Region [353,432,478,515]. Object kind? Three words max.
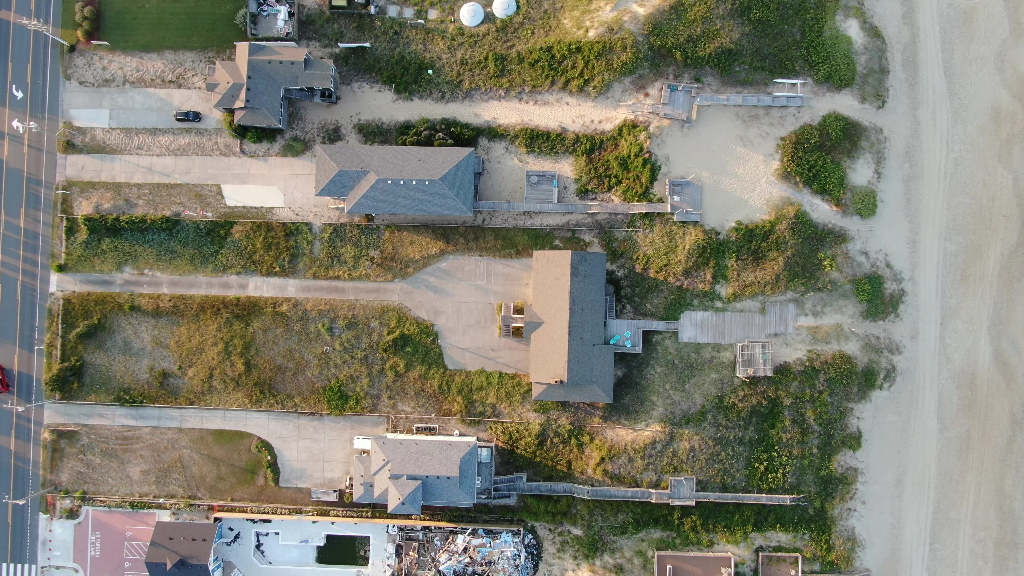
house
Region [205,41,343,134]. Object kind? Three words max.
house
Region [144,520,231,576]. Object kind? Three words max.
building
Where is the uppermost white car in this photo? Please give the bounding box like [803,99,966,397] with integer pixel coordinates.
[347,437,371,452]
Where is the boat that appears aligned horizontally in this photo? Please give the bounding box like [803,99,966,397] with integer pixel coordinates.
[773,79,808,96]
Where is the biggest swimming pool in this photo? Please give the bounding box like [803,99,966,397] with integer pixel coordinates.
[252,529,372,571]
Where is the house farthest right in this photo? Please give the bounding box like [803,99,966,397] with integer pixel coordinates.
[523,250,615,404]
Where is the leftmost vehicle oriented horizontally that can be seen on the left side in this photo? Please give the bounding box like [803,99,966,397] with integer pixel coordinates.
[172,108,200,122]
